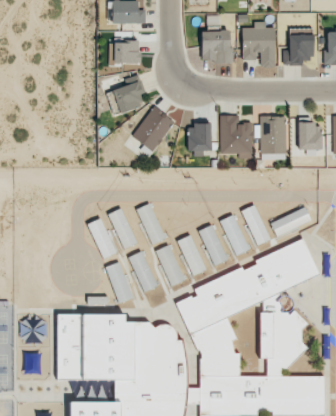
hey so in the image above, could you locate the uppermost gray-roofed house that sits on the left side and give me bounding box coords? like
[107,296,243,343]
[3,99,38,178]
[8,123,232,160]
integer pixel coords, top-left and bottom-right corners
[114,0,146,24]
